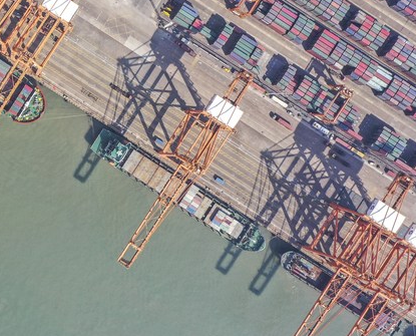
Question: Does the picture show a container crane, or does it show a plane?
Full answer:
Visible in the photo is a container crane.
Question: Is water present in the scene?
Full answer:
Yes, the picture does contain water.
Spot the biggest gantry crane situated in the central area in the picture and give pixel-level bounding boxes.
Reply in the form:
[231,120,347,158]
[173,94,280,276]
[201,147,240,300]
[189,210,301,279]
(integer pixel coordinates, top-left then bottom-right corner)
[117,69,256,269]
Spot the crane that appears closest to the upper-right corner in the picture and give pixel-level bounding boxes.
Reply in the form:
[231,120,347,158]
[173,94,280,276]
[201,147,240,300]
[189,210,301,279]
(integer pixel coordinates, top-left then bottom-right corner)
[305,84,355,126]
